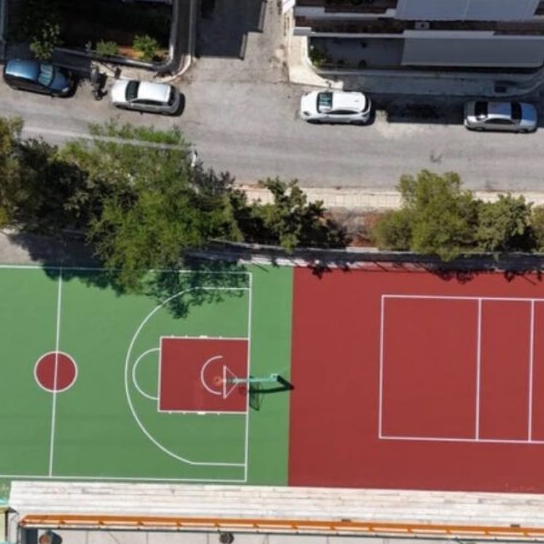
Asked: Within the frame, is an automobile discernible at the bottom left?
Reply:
No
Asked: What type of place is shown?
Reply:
sports ground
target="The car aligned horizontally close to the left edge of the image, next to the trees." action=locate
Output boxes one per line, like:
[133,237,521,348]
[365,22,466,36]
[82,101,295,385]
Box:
[3,57,75,98]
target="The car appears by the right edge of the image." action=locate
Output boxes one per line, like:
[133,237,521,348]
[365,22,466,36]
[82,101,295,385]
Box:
[465,98,534,134]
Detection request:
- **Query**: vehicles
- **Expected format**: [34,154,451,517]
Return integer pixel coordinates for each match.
[3,57,75,98]
[300,86,370,124]
[465,98,534,134]
[112,75,181,115]
[85,65,100,98]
